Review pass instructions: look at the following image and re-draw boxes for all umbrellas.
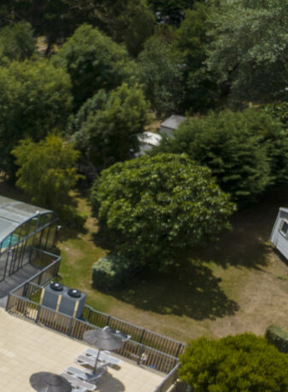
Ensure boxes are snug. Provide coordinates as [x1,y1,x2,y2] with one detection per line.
[83,329,128,373]
[28,374,76,392]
